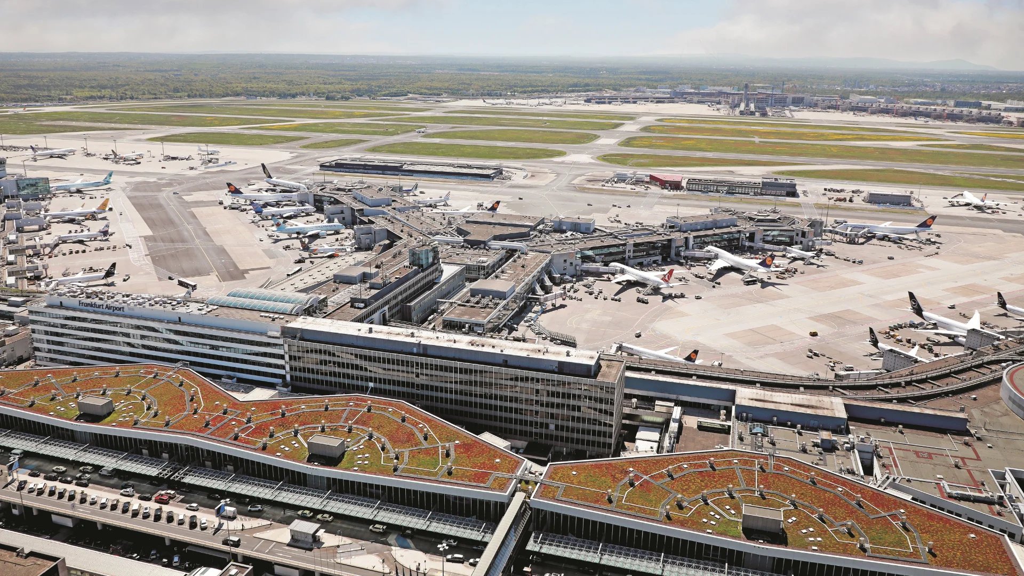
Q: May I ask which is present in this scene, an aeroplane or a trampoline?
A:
aeroplane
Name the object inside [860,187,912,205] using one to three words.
building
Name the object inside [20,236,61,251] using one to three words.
jet bridge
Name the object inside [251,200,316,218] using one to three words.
airplane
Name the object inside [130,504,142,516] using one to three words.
vehicle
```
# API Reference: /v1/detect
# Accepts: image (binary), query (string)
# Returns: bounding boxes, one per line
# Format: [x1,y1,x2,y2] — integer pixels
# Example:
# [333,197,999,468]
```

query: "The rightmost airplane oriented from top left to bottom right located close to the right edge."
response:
[993,292,1024,321]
